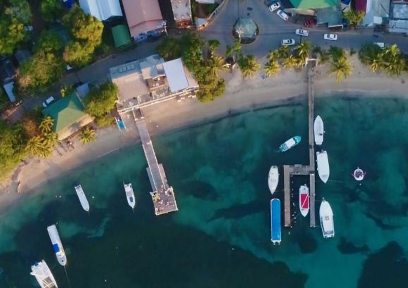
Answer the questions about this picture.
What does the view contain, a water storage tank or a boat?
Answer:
boat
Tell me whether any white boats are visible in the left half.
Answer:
Yes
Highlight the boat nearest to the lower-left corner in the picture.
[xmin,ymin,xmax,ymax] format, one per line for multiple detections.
[29,261,57,288]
